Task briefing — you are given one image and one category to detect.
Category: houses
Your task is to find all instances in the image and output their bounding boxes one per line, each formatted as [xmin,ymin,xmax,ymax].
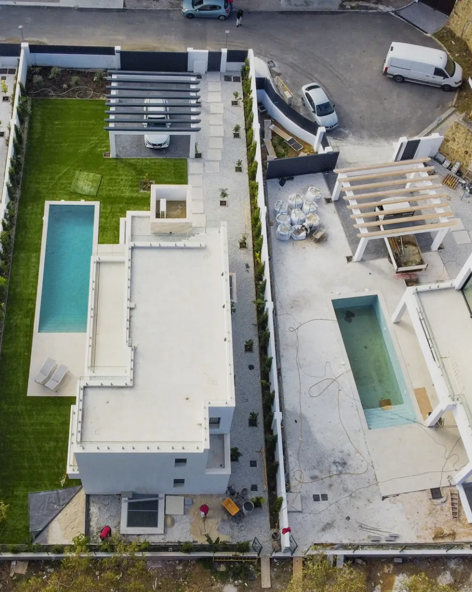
[393,252,472,488]
[65,185,235,494]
